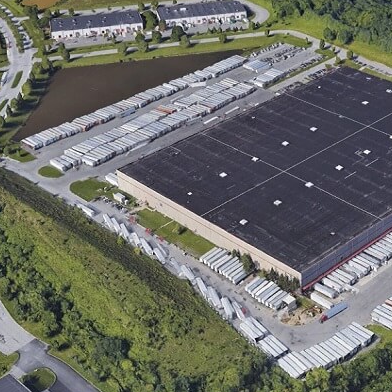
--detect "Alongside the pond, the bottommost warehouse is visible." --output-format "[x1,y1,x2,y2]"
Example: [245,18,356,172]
[117,66,392,290]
